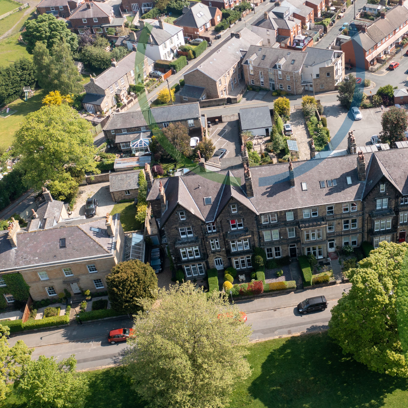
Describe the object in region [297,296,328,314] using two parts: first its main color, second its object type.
black car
